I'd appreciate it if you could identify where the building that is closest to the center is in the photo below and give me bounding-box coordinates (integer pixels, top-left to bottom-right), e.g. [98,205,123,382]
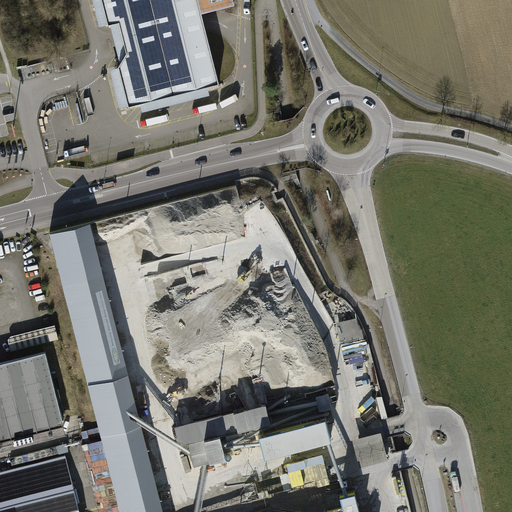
[338,318,364,344]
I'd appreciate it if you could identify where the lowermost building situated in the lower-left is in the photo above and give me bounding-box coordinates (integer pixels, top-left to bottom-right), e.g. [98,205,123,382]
[0,456,80,512]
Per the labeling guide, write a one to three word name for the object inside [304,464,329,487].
shed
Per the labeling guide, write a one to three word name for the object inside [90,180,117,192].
vehicle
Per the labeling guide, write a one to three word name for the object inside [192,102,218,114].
vehicle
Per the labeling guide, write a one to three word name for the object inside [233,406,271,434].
building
